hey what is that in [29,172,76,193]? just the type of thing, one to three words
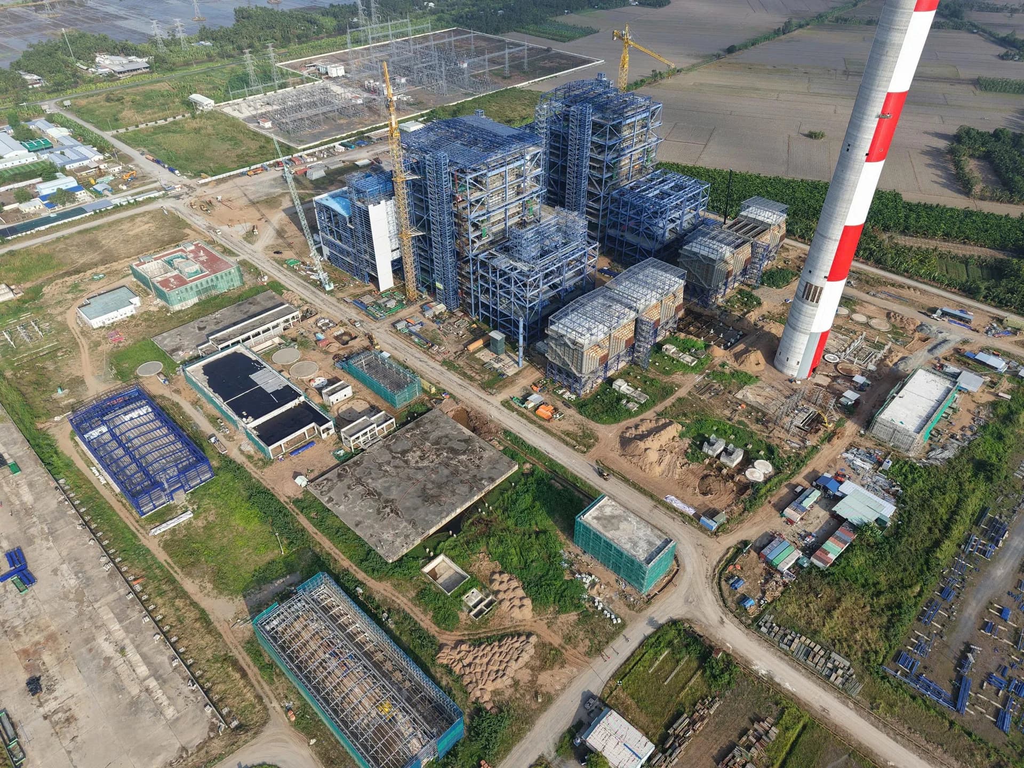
shed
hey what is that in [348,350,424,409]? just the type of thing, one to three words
building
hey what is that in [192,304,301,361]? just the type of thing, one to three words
shed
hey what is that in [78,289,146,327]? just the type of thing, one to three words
building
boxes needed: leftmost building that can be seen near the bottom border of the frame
[252,570,497,768]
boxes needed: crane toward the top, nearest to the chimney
[607,27,676,90]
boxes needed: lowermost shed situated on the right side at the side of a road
[579,700,660,768]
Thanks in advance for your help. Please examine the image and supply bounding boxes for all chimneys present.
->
[774,0,939,381]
